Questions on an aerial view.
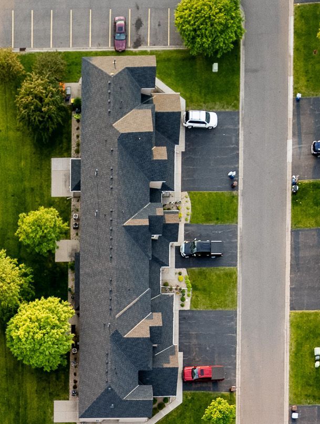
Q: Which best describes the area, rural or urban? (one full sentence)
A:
From above, the setting appears urban.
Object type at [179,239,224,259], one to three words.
vehicle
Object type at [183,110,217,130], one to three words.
car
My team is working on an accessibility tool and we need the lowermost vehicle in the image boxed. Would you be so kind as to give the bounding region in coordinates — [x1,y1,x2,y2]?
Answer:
[182,364,226,382]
